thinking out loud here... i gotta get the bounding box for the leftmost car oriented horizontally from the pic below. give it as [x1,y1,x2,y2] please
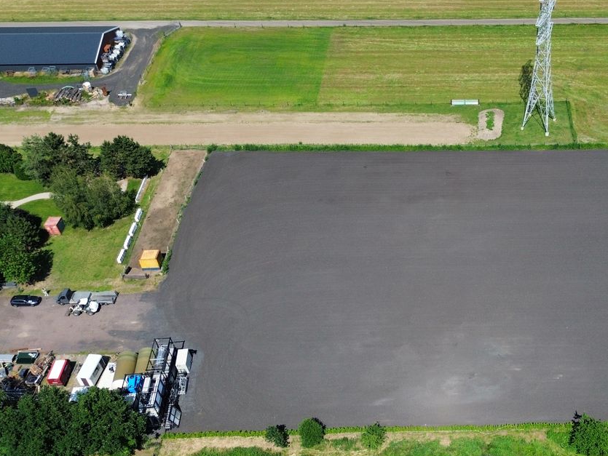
[8,290,43,305]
